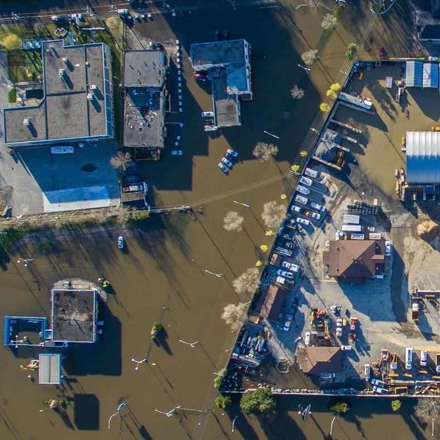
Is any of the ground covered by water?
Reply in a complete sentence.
Yes, there is water in the image.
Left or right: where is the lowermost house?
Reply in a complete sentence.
You can find the lowermost house on the right side of the picture.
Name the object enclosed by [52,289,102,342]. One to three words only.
building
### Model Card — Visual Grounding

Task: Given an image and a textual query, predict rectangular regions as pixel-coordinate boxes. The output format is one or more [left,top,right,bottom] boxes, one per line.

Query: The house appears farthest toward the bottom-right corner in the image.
[298,346,342,373]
